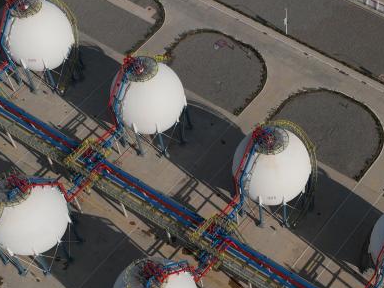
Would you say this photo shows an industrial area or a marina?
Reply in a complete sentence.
This looks like an industrial area.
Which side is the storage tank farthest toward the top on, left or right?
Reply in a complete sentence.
The storage tank farthest toward the top appears in the left half of the scene.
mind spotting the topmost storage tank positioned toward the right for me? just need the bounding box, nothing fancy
[221,119,317,226]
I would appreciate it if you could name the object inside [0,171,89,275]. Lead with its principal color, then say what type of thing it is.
white storage tank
